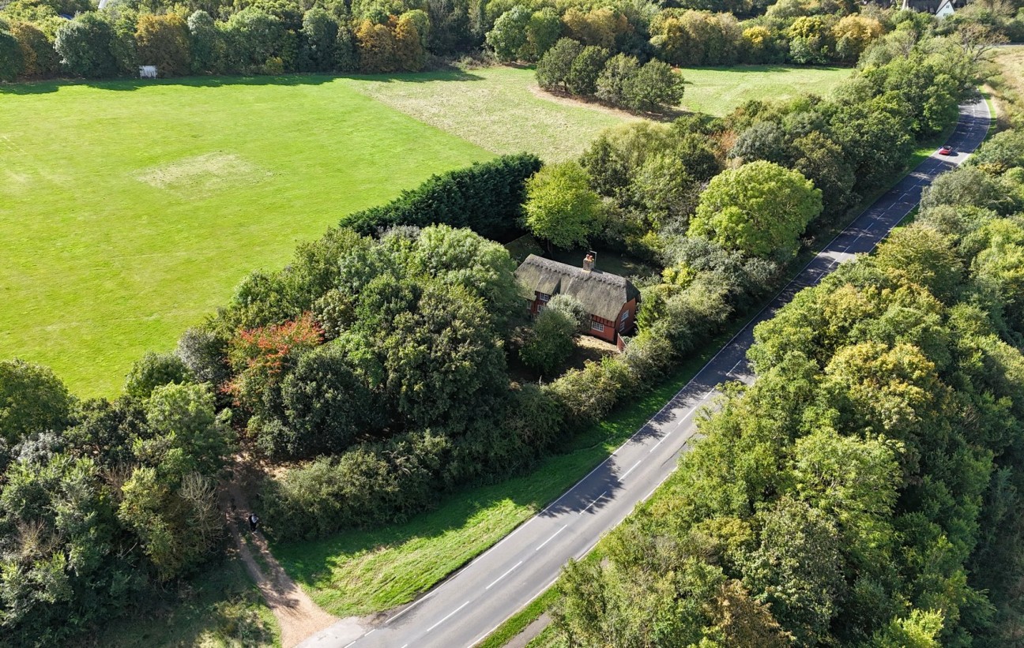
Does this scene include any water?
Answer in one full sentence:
No, there's no water in this view.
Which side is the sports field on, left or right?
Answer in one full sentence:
You can find the sports field on the left side of the picture.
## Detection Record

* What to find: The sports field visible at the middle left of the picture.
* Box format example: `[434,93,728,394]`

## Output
[0,76,498,442]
